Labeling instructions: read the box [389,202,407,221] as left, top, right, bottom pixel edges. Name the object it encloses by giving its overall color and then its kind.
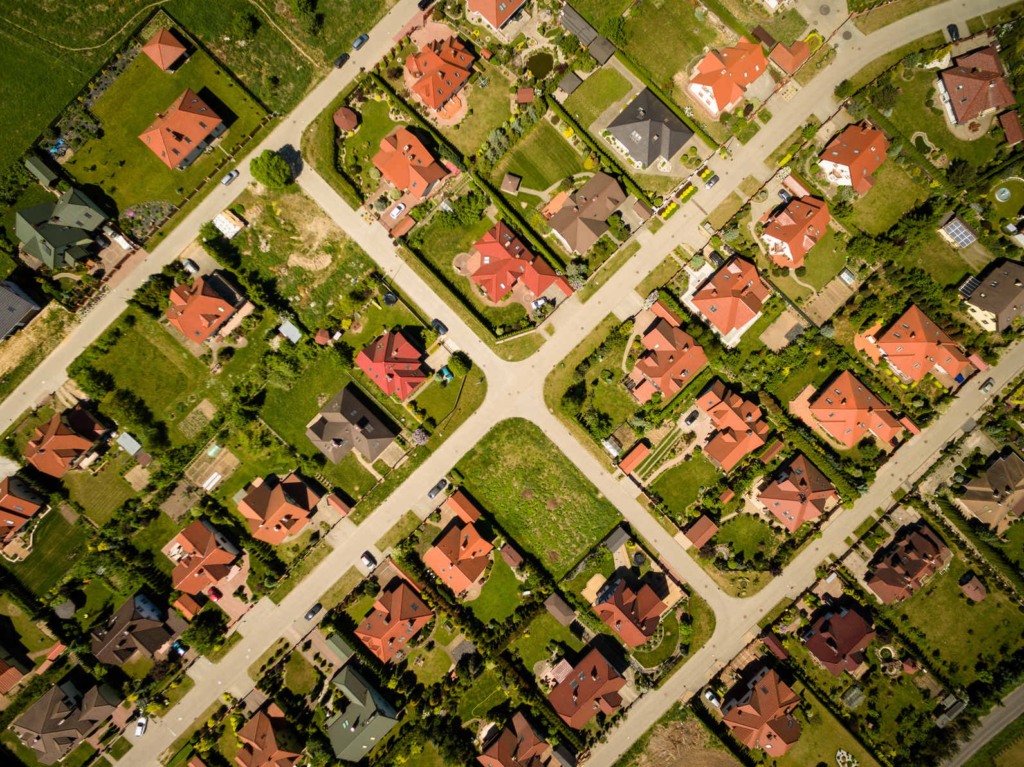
white car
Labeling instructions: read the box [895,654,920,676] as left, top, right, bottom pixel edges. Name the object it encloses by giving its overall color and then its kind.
red gazebo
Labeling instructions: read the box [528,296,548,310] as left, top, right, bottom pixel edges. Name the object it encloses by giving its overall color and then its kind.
white car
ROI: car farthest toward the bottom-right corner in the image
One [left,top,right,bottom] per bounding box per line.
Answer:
[818,587,836,610]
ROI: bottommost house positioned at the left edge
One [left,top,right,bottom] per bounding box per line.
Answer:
[13,679,123,766]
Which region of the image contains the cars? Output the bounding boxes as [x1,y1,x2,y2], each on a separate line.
[528,296,548,310]
[360,551,378,570]
[973,378,996,399]
[219,168,242,187]
[301,600,326,624]
[948,373,968,386]
[181,256,202,277]
[439,363,455,383]
[172,638,190,658]
[101,224,118,241]
[350,32,371,53]
[706,247,727,270]
[701,172,723,193]
[389,202,407,221]
[773,185,794,207]
[426,477,449,501]
[332,52,352,71]
[945,22,960,43]
[429,316,451,337]
[818,587,836,610]
[681,407,702,429]
[415,0,437,14]
[702,687,723,709]
[134,713,151,740]
[93,233,114,253]
[888,436,902,451]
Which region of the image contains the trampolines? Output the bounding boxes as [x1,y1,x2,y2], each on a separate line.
[382,292,397,306]
[633,553,648,566]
